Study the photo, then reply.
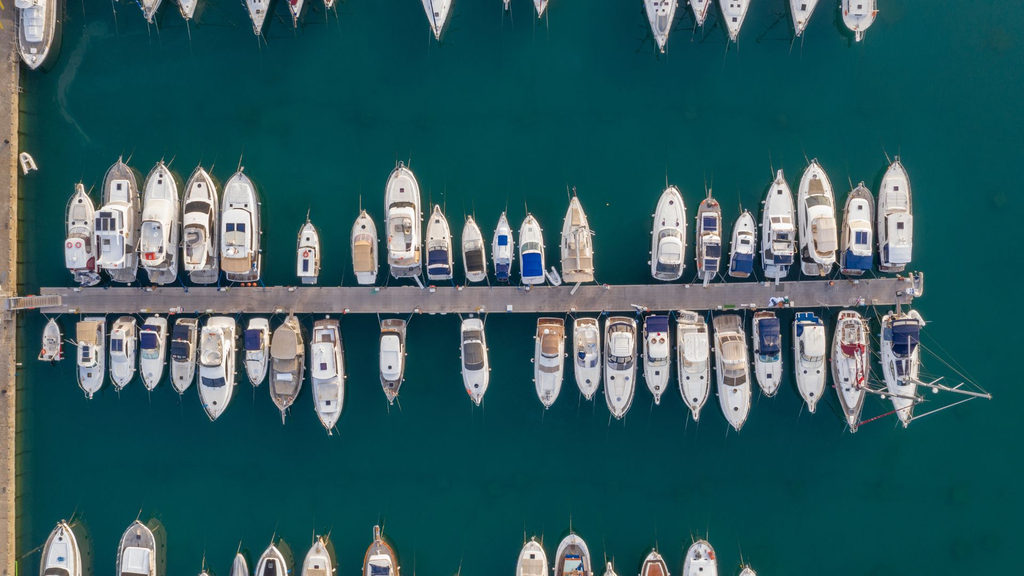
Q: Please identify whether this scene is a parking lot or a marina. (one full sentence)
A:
What you see here is a marina.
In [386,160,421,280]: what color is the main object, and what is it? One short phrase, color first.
white boat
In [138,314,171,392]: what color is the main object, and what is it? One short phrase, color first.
white boat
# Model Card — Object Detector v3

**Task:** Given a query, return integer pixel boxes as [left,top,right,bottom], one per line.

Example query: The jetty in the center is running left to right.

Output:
[39,276,913,314]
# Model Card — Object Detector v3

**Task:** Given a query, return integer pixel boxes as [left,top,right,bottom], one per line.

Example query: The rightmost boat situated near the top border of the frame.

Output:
[839,0,879,43]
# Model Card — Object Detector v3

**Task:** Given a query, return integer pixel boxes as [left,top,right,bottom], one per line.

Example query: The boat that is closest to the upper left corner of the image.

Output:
[6,0,67,69]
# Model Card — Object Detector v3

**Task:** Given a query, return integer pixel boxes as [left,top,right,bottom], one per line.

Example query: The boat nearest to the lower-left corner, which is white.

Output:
[38,521,88,576]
